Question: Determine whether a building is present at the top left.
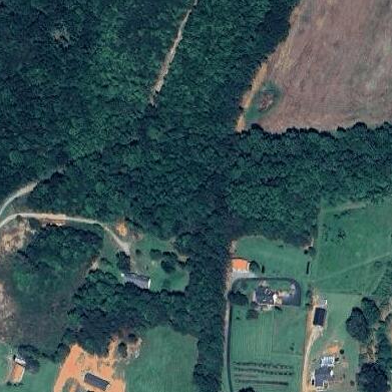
No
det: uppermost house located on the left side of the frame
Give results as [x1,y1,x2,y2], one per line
[123,273,155,291]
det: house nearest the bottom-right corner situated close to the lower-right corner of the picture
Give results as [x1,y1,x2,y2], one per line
[312,363,335,391]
